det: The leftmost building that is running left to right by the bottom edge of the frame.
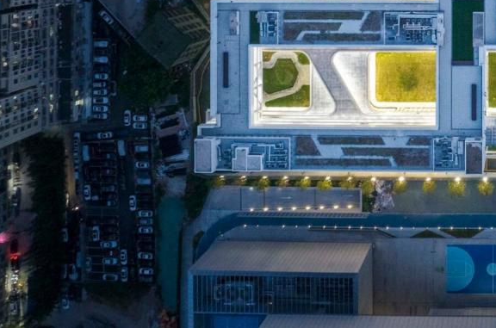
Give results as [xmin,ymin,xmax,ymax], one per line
[187,241,371,328]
